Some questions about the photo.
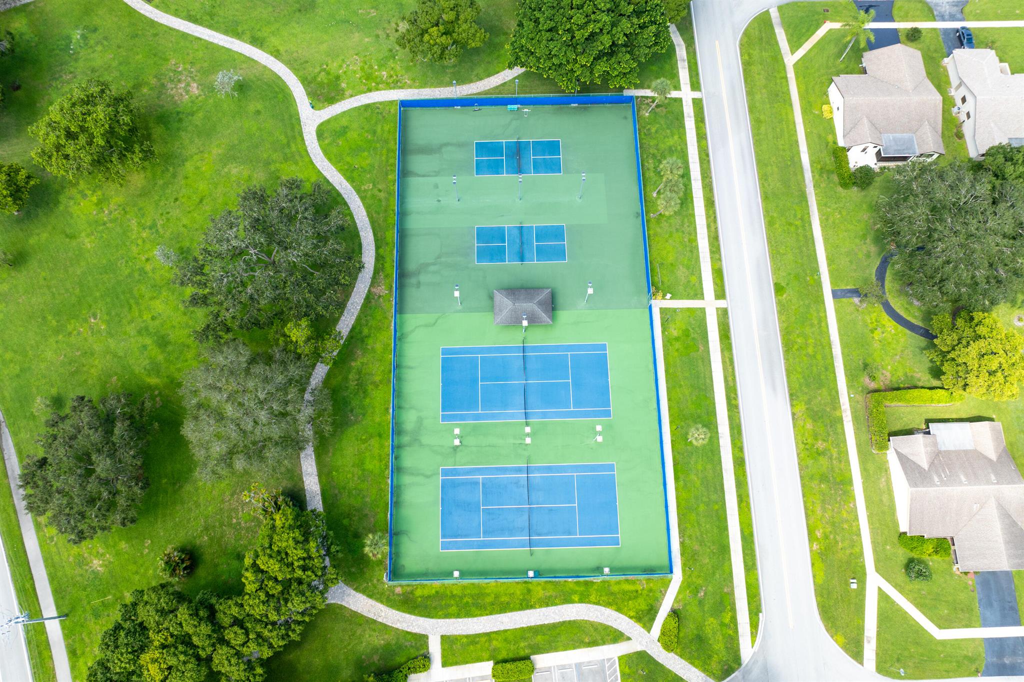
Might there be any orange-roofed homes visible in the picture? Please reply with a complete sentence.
No, there appears to be no orange-roofed home in this shot.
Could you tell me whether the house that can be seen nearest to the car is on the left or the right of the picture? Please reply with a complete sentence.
The house that can be seen nearest to the car is on the right side of the image.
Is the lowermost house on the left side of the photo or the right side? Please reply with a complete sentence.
The lowermost house sits on the right side.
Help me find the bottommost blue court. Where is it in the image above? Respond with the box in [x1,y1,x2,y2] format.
[440,463,621,552]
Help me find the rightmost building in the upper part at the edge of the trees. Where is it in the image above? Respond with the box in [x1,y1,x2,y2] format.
[946,44,1024,166]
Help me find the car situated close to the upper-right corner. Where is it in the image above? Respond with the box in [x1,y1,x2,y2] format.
[956,26,974,48]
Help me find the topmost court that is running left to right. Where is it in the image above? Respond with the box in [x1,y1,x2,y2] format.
[474,139,562,176]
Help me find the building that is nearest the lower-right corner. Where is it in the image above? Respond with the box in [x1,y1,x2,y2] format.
[888,419,1024,572]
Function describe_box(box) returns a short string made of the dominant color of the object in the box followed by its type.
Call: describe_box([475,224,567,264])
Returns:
blue sports court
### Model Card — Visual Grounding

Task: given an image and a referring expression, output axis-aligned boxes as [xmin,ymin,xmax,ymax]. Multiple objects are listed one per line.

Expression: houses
[946,44,1024,166]
[888,419,1024,572]
[829,44,946,170]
